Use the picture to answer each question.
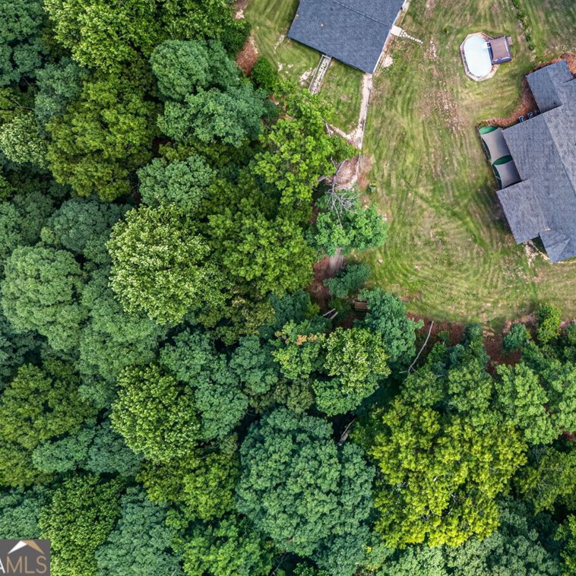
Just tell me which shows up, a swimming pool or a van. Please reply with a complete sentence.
This aerial view contains a swimming pool.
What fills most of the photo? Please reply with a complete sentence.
The largest share of the image is taken up by trees.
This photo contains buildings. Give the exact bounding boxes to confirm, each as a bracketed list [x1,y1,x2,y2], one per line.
[495,58,576,265]
[286,0,404,74]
